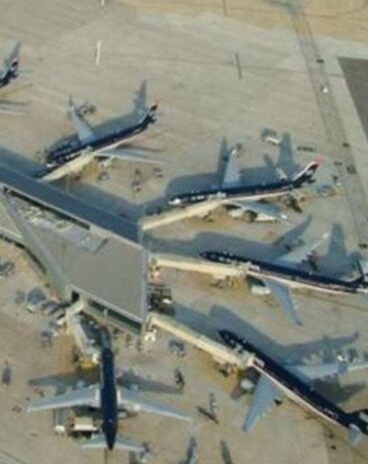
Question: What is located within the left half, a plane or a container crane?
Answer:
plane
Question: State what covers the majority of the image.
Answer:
paved ground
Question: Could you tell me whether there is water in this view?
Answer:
No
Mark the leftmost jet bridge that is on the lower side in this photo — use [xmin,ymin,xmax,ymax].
[63,296,111,365]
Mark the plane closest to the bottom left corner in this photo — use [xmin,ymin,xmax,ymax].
[26,347,193,452]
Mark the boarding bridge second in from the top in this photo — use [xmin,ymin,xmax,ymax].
[136,188,232,234]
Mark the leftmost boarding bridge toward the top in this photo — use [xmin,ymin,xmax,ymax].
[37,143,94,188]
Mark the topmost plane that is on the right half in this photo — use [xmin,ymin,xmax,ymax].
[169,150,324,225]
